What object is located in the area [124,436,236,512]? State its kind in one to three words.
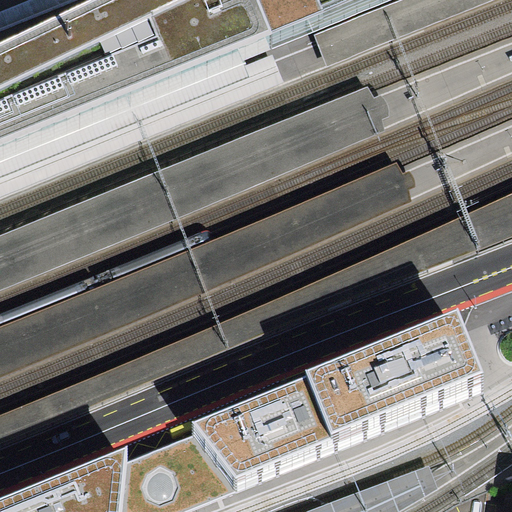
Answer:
building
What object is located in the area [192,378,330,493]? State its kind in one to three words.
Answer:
building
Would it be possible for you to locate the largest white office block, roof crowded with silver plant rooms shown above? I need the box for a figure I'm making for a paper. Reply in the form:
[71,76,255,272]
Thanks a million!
[306,309,482,456]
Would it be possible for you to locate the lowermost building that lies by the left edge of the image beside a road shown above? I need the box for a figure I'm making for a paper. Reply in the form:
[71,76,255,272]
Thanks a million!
[0,446,129,512]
